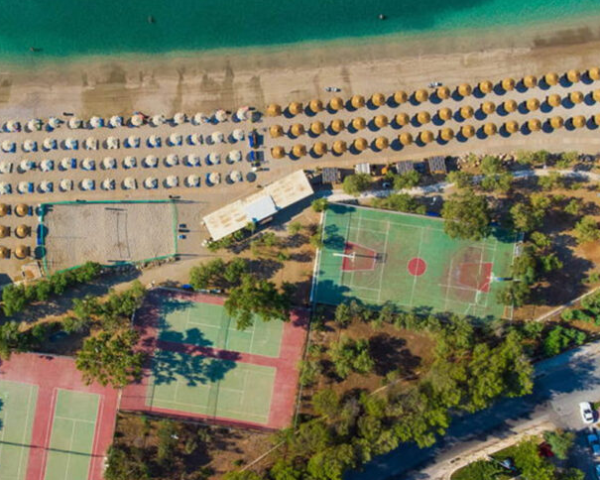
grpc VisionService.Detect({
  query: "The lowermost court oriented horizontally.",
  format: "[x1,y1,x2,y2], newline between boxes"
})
[119,334,299,429]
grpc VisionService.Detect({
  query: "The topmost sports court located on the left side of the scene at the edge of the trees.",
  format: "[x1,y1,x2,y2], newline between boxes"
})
[41,200,177,274]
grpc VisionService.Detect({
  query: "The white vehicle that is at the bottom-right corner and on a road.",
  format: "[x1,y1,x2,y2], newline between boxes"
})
[577,400,594,424]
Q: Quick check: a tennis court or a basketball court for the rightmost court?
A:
basketball court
